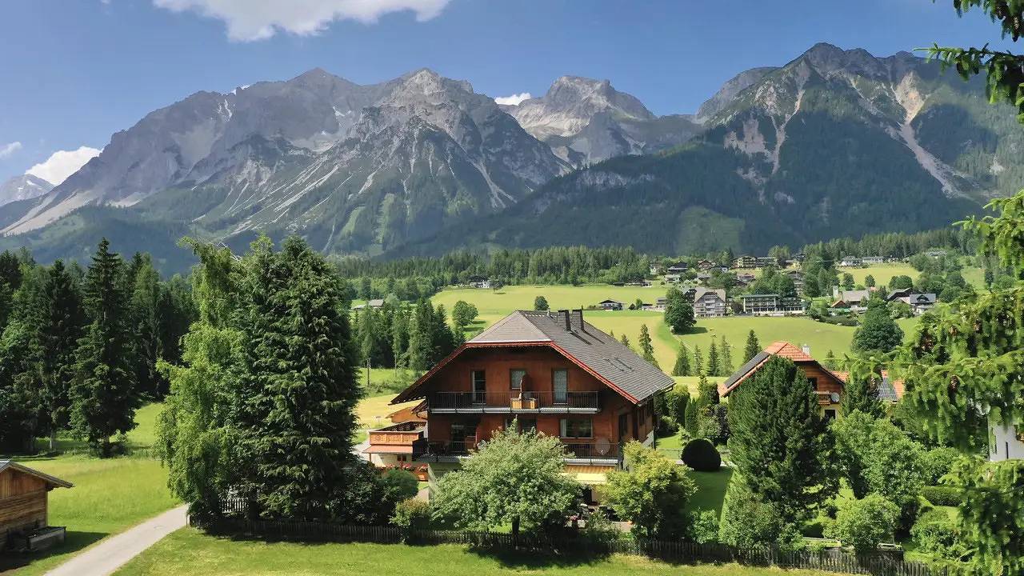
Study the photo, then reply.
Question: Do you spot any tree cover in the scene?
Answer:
Yes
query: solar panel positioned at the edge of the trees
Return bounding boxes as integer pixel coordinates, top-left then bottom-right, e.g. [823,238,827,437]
[724,342,772,381]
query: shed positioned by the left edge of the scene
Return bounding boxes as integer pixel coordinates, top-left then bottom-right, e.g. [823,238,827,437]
[0,463,75,543]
